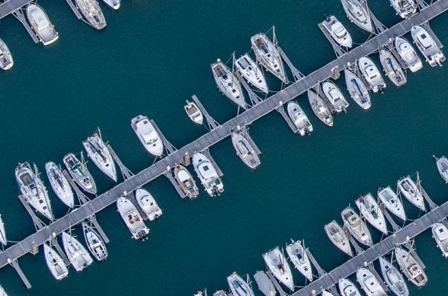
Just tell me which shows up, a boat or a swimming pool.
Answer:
boat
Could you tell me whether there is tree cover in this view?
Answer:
No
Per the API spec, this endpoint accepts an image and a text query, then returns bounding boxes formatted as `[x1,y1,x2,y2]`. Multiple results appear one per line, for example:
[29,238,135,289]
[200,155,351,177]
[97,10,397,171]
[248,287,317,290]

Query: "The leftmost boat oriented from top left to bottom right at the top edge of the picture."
[18,0,59,48]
